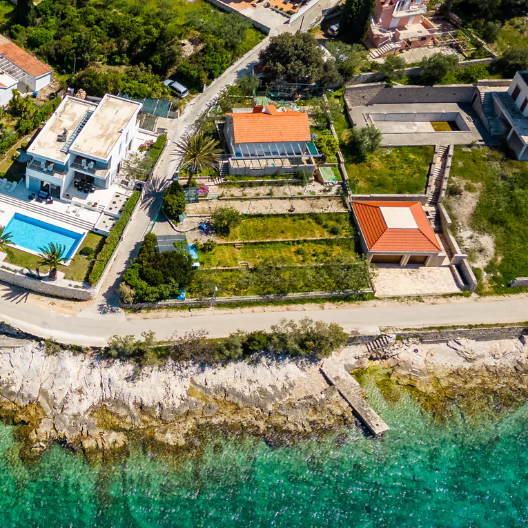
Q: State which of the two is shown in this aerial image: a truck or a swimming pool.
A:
swimming pool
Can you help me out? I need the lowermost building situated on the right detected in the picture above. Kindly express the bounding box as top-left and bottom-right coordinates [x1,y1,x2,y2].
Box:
[347,200,442,267]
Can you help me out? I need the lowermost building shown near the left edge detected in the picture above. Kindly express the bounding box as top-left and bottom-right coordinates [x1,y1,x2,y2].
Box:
[26,93,144,200]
